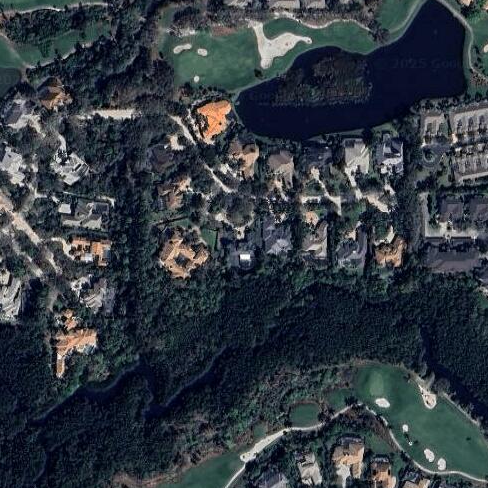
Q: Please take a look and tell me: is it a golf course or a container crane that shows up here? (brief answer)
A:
golf course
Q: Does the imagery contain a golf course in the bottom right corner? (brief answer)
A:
Yes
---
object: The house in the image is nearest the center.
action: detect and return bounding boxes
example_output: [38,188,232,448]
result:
[229,231,253,256]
